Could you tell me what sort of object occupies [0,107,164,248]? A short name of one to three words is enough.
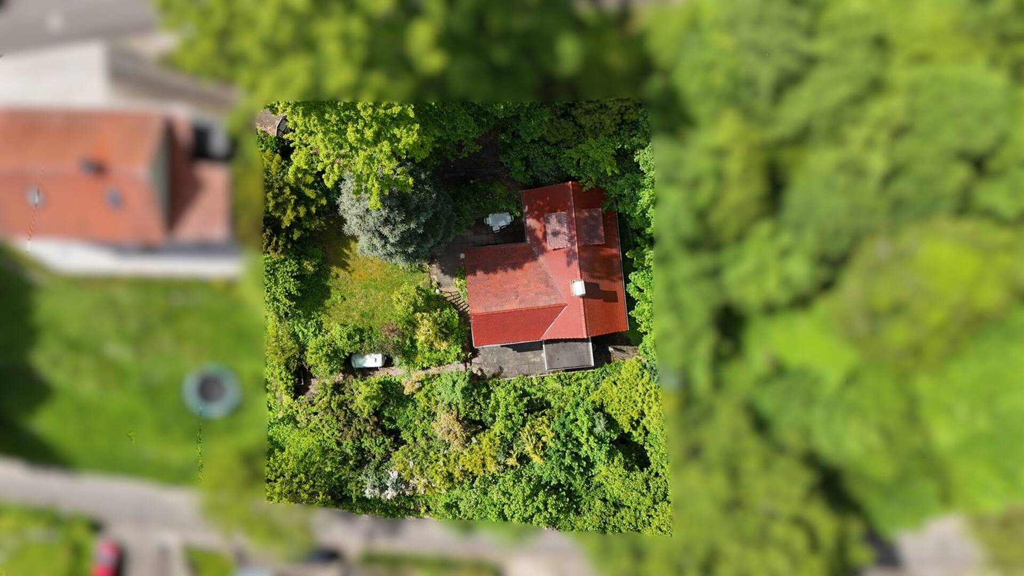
house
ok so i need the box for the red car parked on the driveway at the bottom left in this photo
[91,533,125,576]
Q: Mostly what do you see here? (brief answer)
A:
trees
